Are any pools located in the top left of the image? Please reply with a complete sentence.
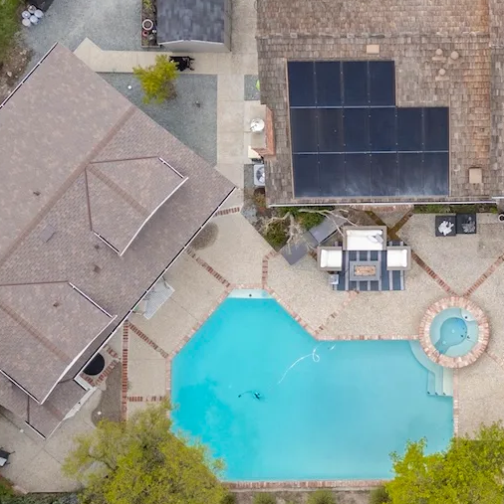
No, no pool is visible in the top left of the image.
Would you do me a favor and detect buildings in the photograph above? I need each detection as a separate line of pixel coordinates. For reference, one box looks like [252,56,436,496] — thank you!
[243,0,504,206]
[0,42,237,439]
[156,0,232,53]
